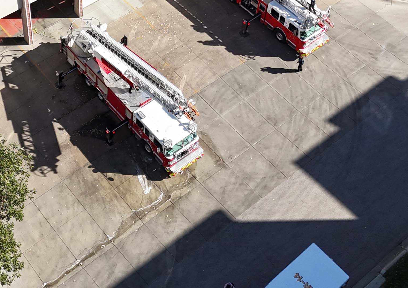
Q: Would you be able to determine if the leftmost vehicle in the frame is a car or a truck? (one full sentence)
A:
Looking closely, the leftmost vehicle is a truck.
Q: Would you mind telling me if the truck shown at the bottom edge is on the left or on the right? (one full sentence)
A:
The truck shown at the bottom edge appears in the right half of the scene.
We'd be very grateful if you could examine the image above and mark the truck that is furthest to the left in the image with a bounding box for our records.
[54,16,216,174]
